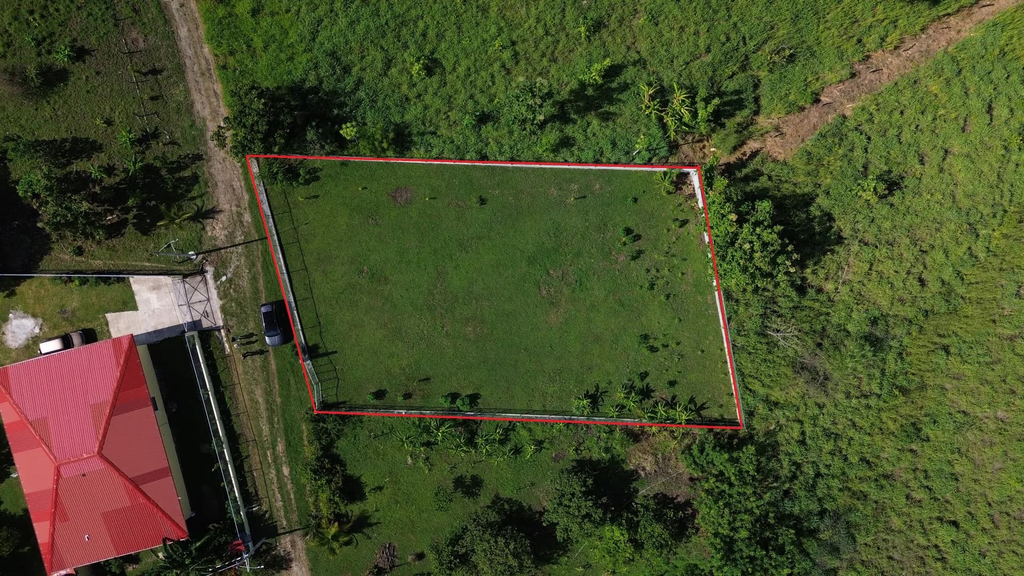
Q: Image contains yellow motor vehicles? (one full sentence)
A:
No, the picture doesn't show any yellow motor vehicle.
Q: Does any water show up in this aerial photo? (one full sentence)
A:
No, there is no water in the image.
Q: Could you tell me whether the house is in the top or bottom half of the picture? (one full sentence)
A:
It is in the bottom half that the house appears.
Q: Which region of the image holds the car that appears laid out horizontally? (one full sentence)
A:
The car that appears laid out horizontally is in the left part of the image.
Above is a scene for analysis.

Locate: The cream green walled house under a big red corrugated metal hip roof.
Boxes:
[0,334,197,576]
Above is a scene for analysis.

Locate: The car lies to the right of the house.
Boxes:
[261,302,286,348]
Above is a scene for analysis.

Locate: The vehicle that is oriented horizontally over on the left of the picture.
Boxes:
[36,328,88,354]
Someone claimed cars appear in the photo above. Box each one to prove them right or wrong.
[261,302,286,348]
[36,328,88,354]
